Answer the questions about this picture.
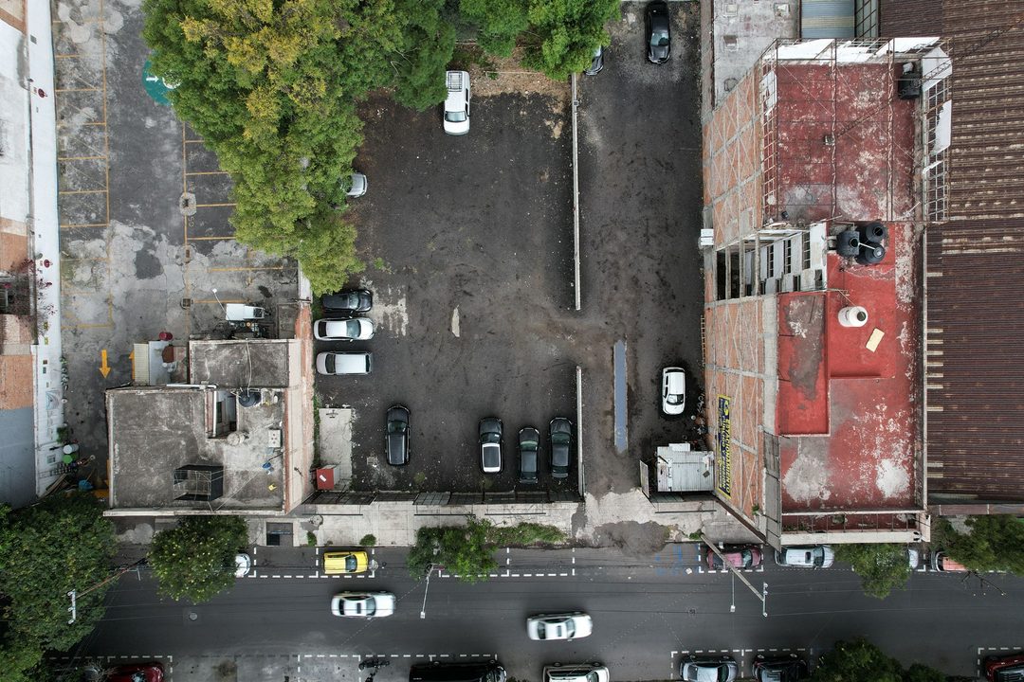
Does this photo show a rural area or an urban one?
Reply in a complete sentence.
The area shown here is urban.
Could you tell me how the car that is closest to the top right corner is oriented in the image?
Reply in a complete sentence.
In this picture, the car that is closest to the top right corner lies up and down.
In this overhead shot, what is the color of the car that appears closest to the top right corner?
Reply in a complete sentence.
The color of the car that appears closest to the top right corner is black.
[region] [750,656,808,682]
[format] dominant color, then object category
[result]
black car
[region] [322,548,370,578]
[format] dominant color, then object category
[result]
yellow car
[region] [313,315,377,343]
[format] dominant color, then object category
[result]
white car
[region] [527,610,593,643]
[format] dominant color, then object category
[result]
white car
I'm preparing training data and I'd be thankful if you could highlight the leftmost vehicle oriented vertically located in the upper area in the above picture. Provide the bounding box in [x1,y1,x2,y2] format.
[441,69,471,137]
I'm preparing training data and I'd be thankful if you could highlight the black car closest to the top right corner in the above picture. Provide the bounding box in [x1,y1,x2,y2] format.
[645,8,673,66]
